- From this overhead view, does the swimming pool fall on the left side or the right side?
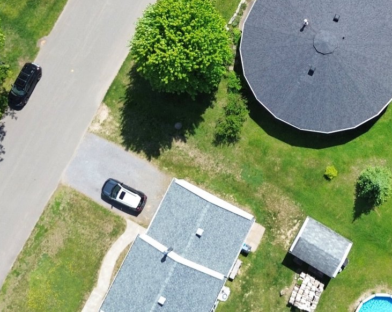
right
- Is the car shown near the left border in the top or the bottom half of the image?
top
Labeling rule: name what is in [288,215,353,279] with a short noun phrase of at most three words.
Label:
shed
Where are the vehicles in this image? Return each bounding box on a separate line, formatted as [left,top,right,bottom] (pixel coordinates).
[100,181,150,213]
[11,59,45,112]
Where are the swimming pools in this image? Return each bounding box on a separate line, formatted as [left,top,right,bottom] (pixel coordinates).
[354,290,392,312]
